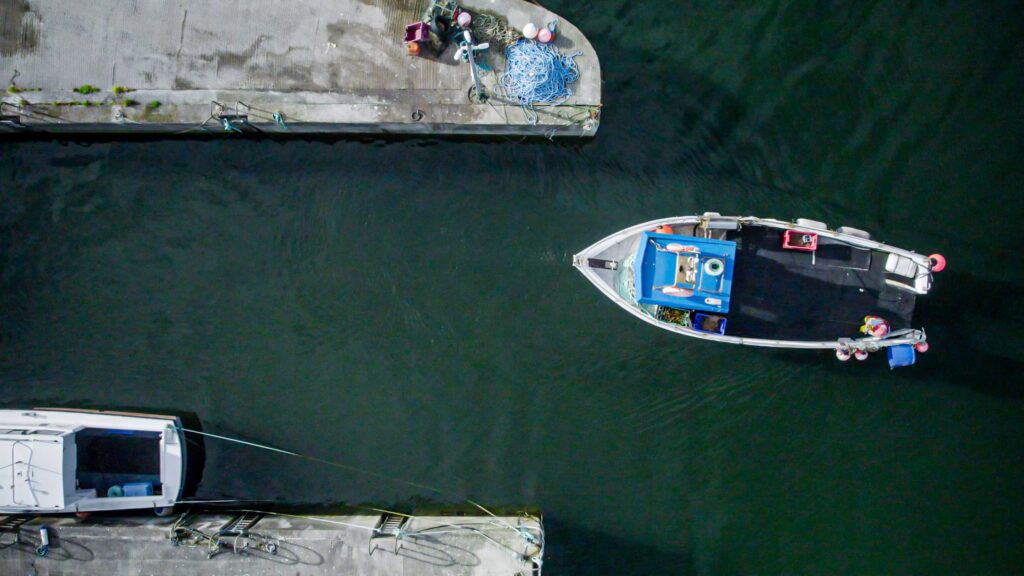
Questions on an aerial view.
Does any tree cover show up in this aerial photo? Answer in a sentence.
No, there is no tree cover in the image.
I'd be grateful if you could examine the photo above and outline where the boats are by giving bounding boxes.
[0,406,207,513]
[573,215,935,350]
